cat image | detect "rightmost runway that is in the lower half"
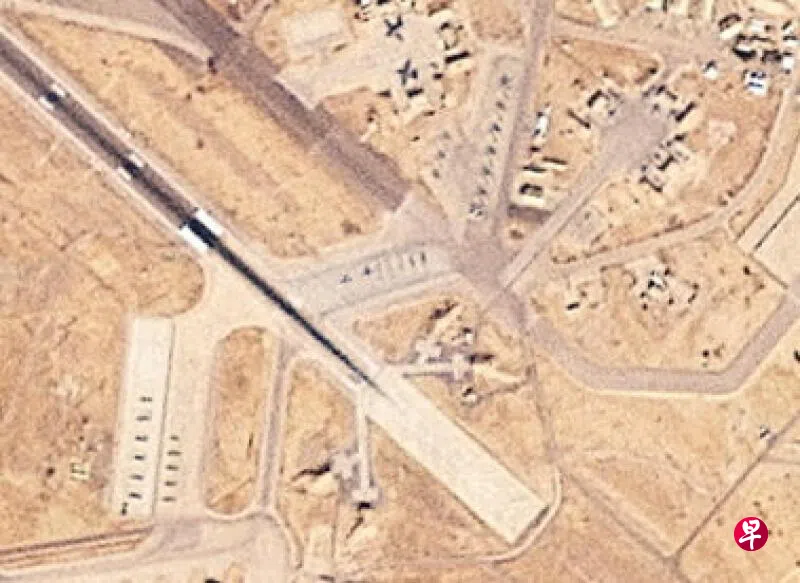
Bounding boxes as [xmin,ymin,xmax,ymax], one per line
[313,306,550,546]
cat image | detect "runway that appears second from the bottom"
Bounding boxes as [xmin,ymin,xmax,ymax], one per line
[187,214,386,392]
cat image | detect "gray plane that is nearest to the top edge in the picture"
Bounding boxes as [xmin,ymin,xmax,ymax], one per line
[383,18,403,37]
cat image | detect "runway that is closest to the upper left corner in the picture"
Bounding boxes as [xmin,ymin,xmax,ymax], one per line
[0,34,198,229]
